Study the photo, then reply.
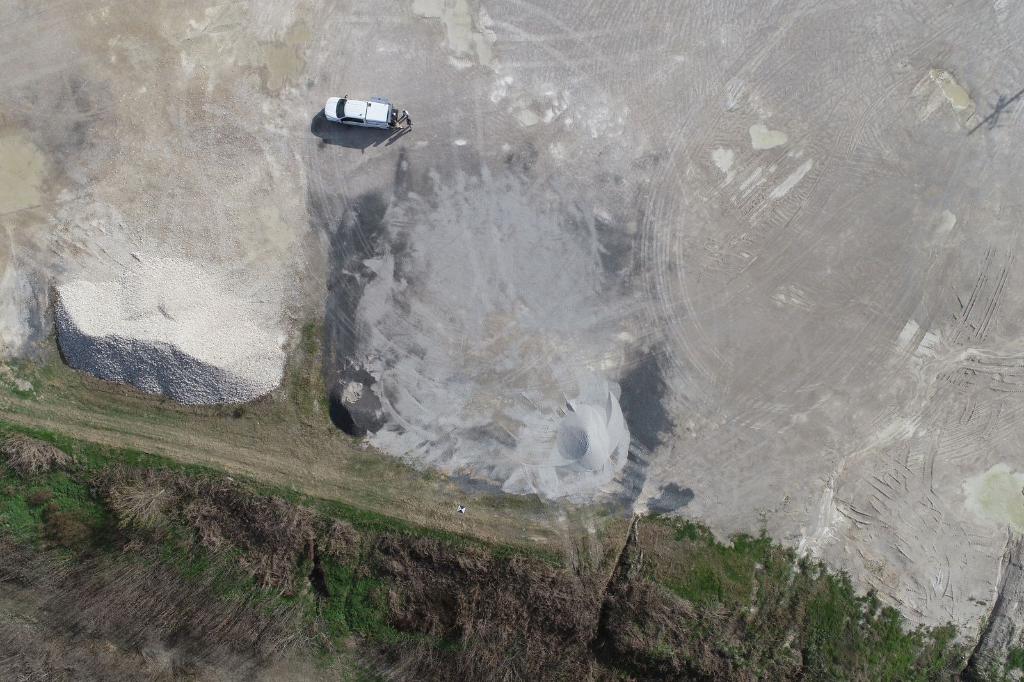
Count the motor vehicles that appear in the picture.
one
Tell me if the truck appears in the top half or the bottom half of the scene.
top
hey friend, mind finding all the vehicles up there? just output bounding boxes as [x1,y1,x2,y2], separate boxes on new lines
[324,94,399,130]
